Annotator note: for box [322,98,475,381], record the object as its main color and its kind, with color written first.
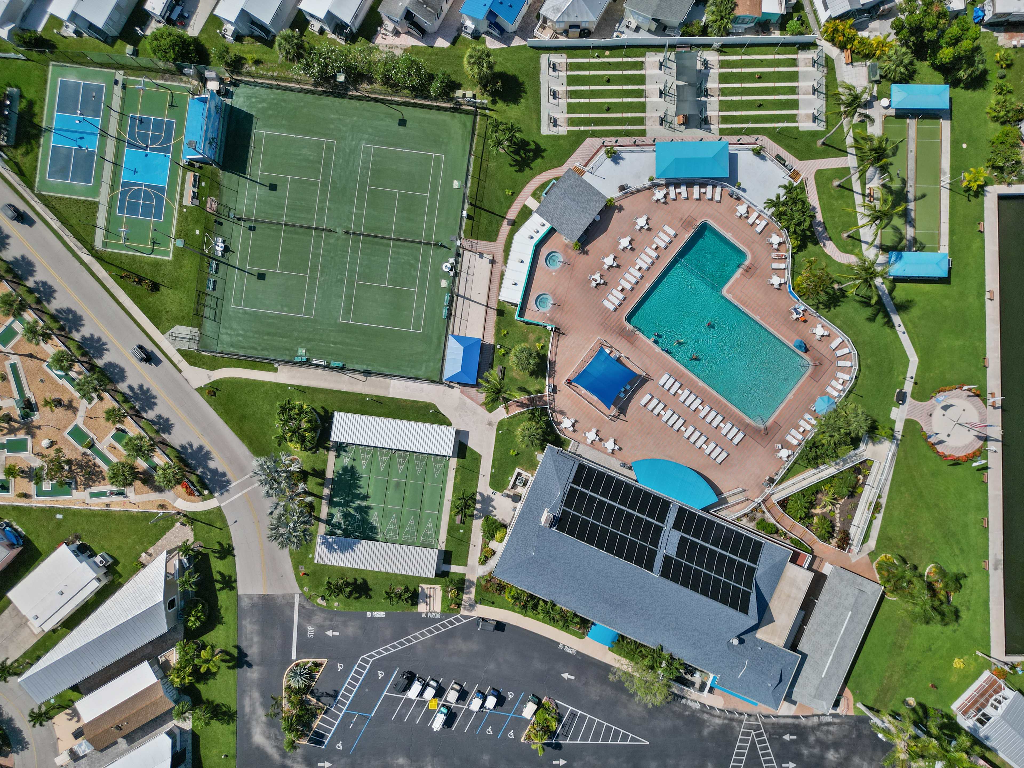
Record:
green tennis court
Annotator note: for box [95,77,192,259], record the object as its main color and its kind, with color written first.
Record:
green sports court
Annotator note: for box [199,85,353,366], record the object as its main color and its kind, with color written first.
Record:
green tennis court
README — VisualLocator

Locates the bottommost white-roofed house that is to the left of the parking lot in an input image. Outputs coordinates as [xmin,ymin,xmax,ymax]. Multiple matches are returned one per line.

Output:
[105,725,181,768]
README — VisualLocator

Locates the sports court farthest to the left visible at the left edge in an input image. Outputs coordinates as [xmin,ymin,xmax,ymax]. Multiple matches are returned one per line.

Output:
[35,64,115,199]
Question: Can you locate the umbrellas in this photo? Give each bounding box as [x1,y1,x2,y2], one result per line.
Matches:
[793,340,807,352]
[814,395,834,414]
